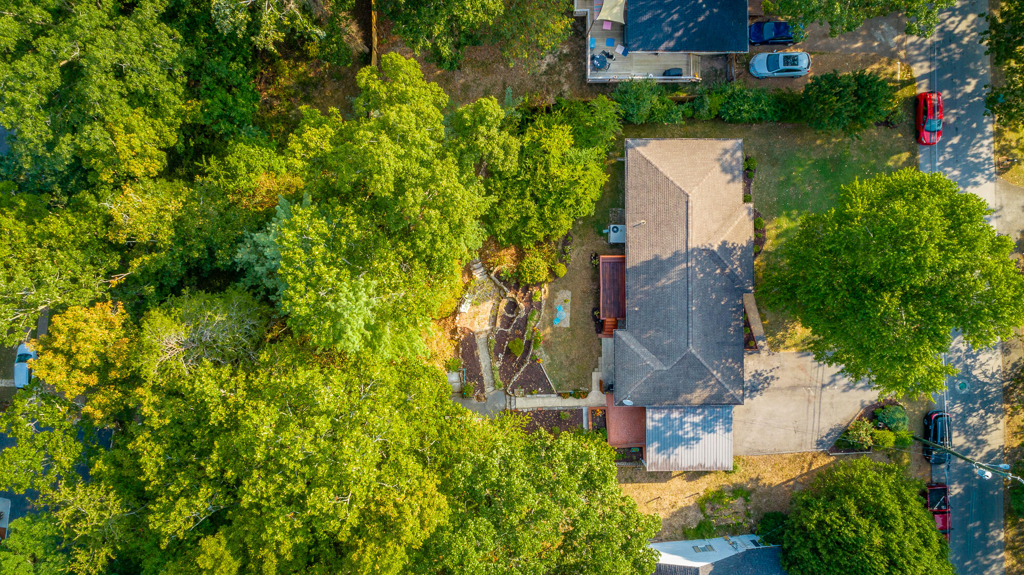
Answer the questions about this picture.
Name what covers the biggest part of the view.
trees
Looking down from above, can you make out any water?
No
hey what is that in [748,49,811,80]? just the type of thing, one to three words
car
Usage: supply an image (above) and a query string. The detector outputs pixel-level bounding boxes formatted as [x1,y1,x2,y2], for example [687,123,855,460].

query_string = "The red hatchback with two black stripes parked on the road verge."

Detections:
[915,90,947,145]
